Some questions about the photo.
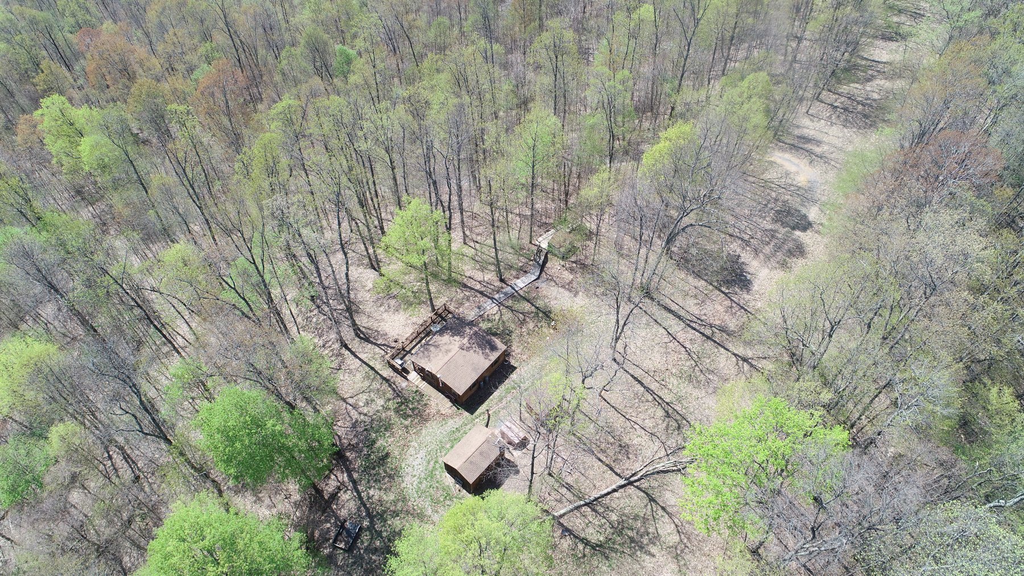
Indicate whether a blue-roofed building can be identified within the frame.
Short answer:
No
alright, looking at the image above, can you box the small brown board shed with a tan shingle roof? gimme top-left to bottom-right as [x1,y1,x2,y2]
[442,425,505,490]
